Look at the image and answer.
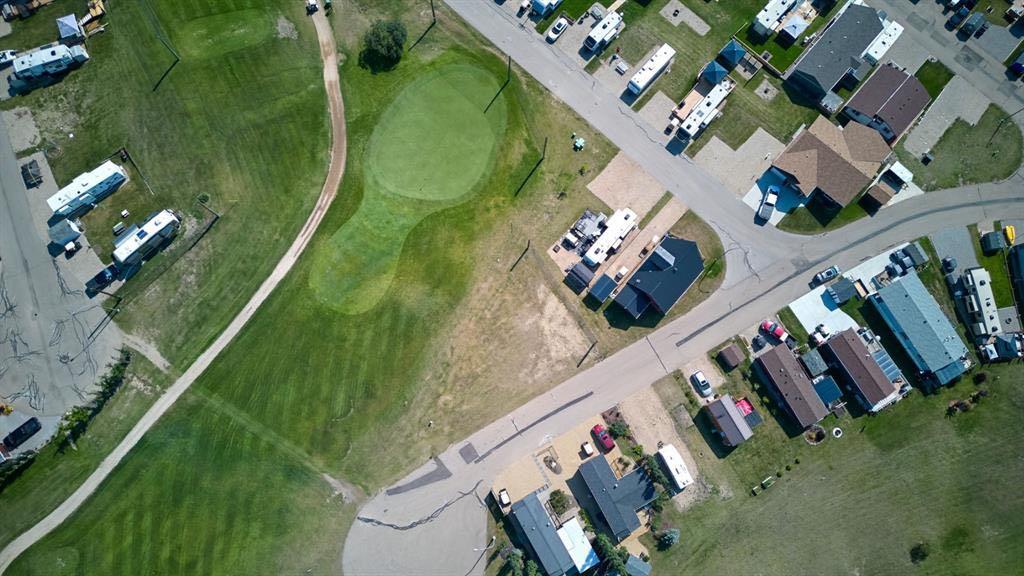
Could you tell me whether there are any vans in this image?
Yes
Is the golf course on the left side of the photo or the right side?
left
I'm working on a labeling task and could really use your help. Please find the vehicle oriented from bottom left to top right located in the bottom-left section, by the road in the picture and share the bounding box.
[3,417,43,449]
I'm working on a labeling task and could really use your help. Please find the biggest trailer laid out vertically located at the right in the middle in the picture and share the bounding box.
[957,267,1002,343]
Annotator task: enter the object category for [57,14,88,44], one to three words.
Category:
gazebo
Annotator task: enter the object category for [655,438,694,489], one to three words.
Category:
trailer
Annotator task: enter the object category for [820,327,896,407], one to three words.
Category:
house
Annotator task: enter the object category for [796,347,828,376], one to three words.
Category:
shed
